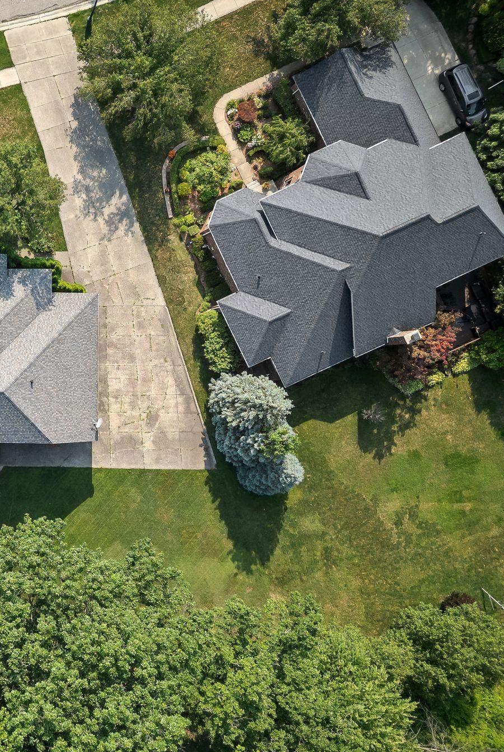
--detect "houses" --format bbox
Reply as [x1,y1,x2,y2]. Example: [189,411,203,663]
[0,253,103,444]
[197,41,504,389]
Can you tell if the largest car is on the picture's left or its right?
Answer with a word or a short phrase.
right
